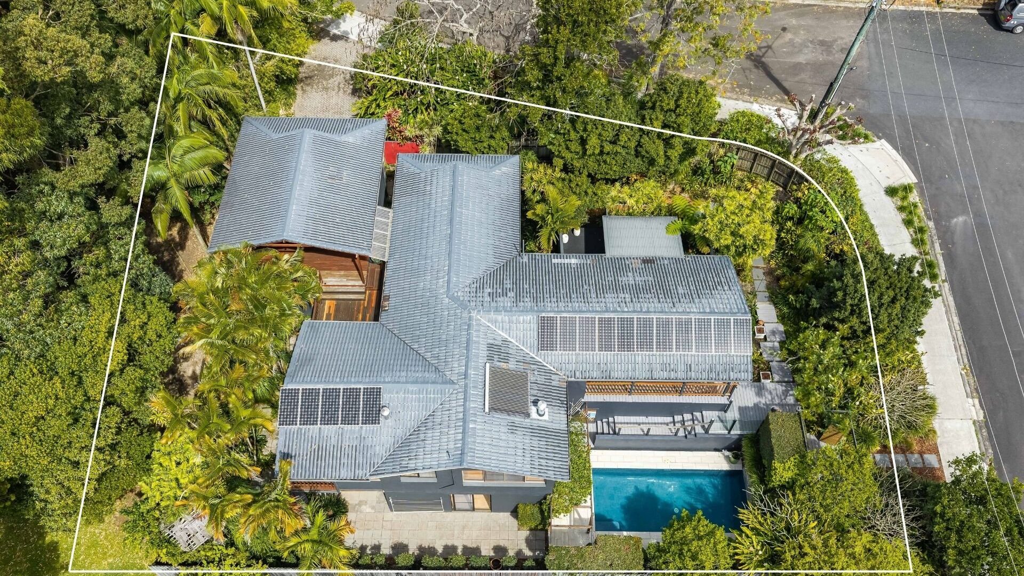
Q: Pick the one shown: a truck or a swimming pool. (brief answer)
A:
swimming pool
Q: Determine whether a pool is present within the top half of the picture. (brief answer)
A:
No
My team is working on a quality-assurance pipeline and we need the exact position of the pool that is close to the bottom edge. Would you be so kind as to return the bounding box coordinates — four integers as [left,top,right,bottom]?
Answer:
[582,449,757,551]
